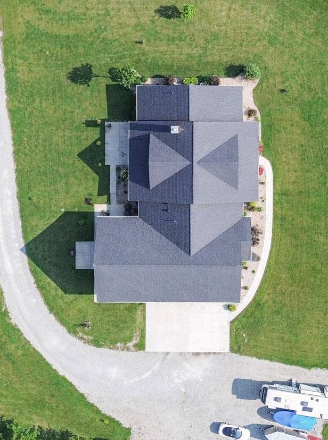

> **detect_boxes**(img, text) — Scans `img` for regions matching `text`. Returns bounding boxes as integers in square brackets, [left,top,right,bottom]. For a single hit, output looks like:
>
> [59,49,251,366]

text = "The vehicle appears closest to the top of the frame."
[257,378,328,419]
